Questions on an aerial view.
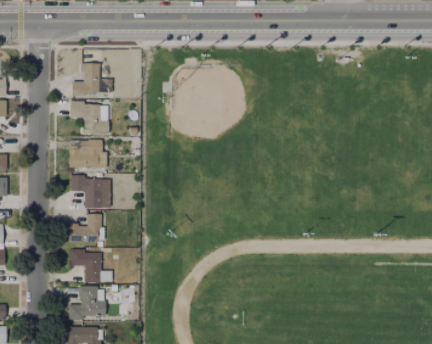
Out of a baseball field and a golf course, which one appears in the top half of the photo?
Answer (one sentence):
There is a baseball field in the top half of the photo.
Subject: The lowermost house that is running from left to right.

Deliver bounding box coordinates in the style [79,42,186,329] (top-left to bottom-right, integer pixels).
[68,328,104,344]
